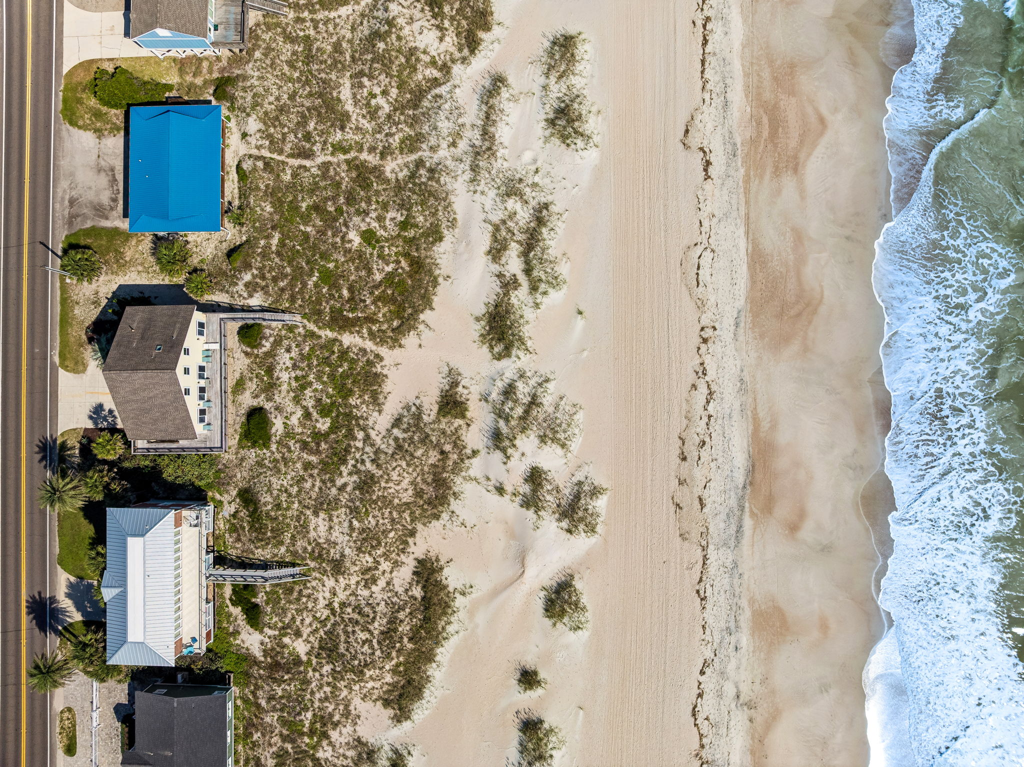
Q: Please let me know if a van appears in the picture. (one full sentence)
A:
No, I can't see a single van in this photo.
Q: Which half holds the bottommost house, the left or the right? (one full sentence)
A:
It is on the left.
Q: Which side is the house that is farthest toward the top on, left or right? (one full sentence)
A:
The house that is farthest toward the top appears in the left half of the scene.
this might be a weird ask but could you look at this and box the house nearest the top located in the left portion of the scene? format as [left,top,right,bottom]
[131,0,220,61]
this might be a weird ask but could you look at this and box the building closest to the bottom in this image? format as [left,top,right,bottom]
[119,672,238,767]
